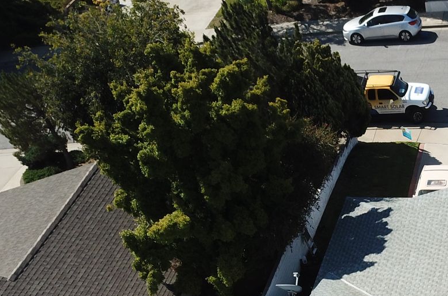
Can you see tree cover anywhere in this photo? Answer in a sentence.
Yes, tree cover shows up in the scene.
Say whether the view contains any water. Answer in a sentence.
No, water can't be seen anywhere here.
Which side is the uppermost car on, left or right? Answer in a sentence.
The uppermost car appears in the right half of the scene.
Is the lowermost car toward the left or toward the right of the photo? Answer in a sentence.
The lowermost car sits on the right side.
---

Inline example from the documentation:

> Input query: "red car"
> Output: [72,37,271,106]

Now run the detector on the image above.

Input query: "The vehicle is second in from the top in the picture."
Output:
[325,65,437,123]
